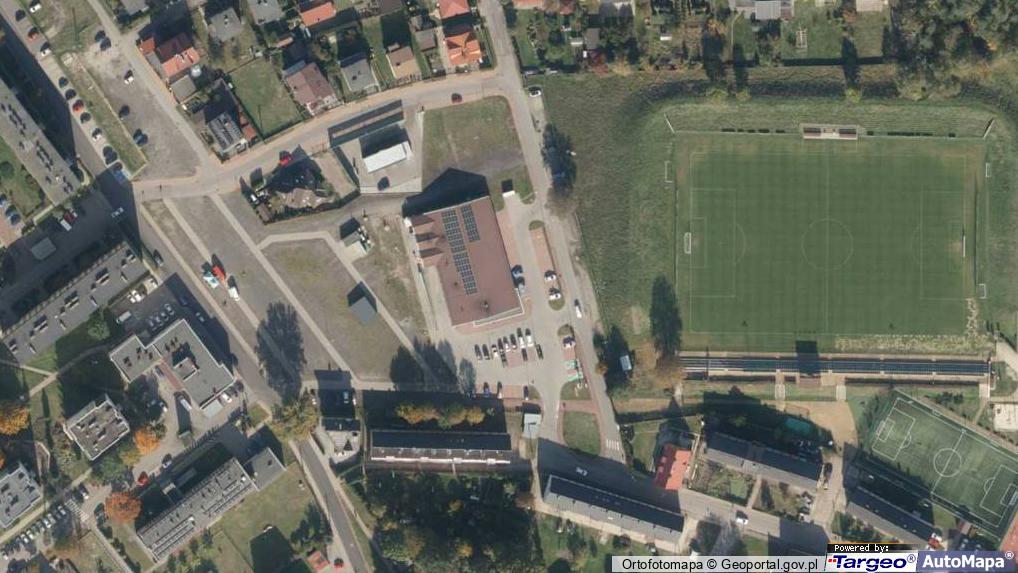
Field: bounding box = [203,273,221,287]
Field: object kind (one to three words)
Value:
vehicle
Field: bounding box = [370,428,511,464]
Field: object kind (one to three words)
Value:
building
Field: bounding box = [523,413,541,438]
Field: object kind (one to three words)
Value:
shed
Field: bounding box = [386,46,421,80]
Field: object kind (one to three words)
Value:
house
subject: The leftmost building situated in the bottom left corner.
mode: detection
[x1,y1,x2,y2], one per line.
[0,463,42,531]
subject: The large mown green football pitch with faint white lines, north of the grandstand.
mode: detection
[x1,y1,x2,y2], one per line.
[690,151,965,334]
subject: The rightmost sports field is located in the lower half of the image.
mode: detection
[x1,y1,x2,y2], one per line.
[859,389,1018,533]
